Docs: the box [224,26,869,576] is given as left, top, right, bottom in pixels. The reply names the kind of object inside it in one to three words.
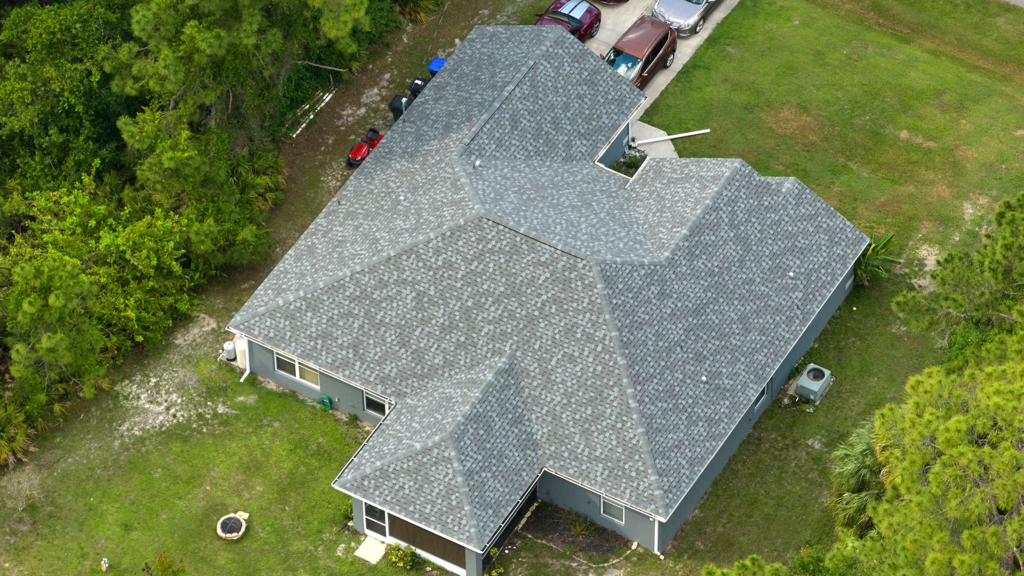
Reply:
house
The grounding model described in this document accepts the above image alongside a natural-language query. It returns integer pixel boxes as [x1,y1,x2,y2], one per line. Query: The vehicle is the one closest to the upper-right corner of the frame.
[648,0,716,34]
